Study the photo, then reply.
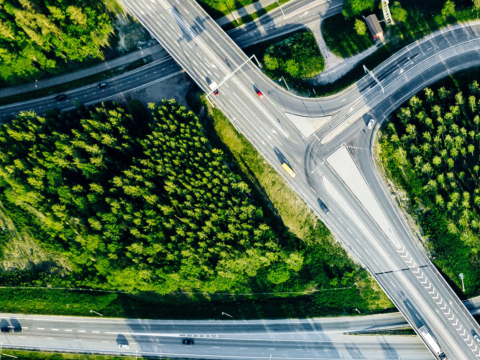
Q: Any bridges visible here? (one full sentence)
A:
Yes, the frame does contain a bridge.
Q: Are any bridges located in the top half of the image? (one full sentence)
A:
Yes, a bridge shows up in the top half of the image.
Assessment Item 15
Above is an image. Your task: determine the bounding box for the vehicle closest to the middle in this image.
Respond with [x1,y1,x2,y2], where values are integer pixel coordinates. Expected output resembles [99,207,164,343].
[280,161,295,177]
